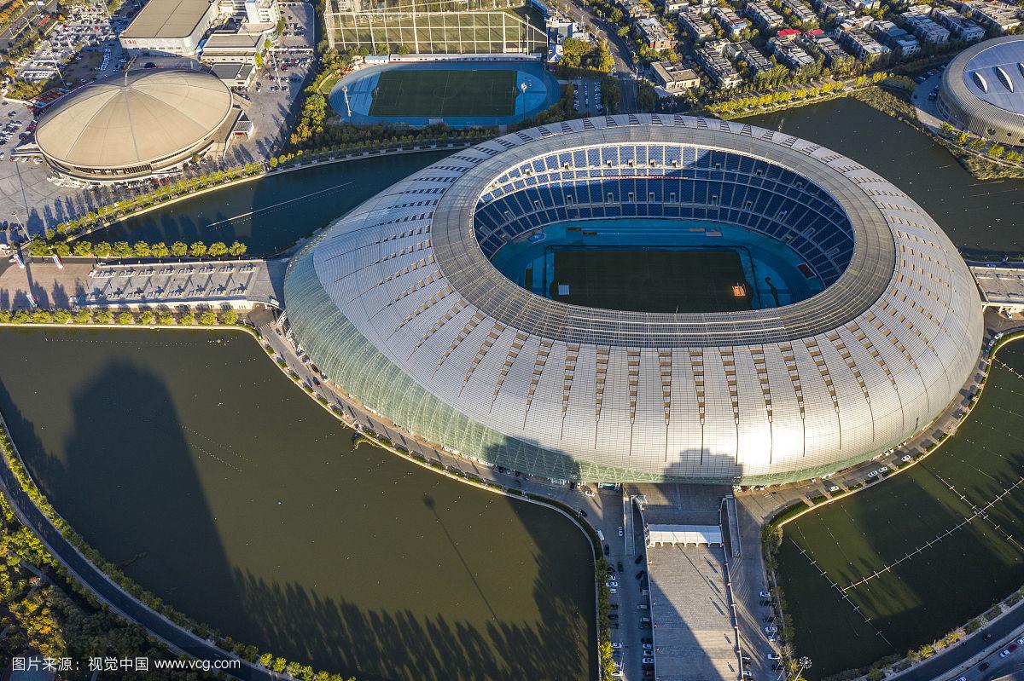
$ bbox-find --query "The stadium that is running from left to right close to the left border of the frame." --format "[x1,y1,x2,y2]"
[12,67,252,185]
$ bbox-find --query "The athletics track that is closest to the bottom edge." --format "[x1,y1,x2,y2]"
[488,217,823,308]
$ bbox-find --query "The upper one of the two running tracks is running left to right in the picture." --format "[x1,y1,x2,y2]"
[328,54,564,120]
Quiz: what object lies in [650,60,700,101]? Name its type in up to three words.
building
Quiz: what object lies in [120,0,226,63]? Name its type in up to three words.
building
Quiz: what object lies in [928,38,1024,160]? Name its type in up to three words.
stadium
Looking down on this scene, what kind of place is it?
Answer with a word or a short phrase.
sports ground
